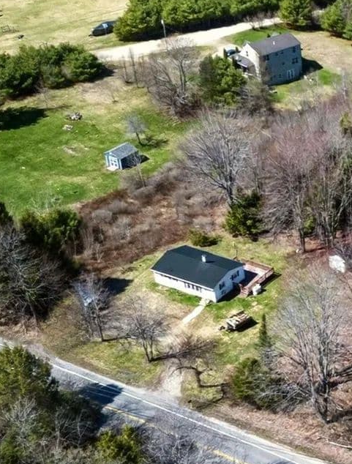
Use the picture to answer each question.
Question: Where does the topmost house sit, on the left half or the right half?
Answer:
right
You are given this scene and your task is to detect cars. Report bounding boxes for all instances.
[222,49,239,58]
[91,24,117,37]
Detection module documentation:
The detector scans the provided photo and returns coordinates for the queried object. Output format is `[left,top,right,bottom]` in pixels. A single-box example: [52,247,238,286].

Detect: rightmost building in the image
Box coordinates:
[232,32,301,87]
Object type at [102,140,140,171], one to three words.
shed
